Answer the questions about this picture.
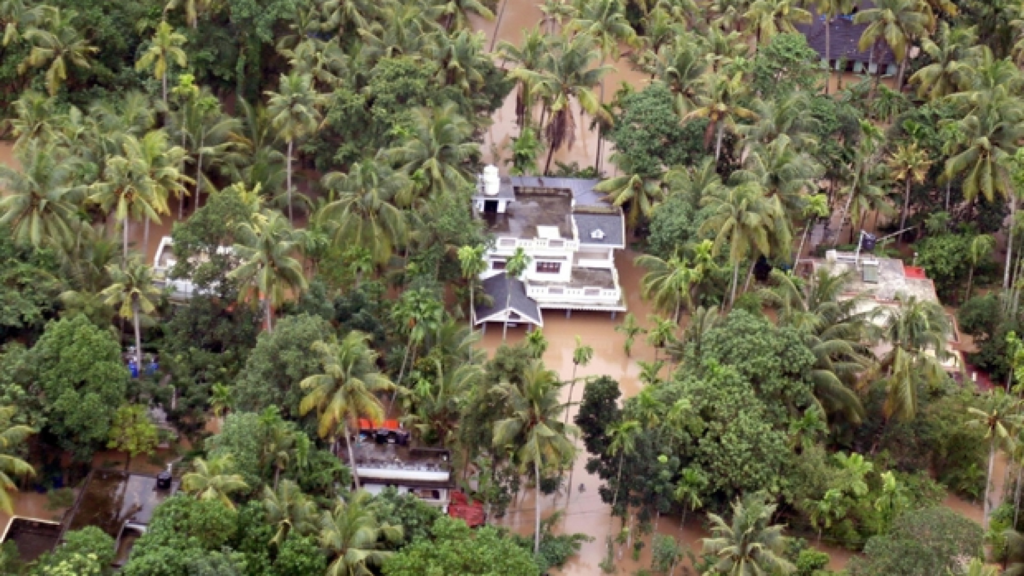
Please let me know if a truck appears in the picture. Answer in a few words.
No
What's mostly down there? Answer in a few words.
trees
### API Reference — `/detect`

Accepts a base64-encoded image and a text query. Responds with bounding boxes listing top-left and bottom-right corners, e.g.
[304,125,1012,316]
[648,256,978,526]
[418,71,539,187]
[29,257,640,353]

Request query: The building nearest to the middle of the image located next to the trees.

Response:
[471,176,628,334]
